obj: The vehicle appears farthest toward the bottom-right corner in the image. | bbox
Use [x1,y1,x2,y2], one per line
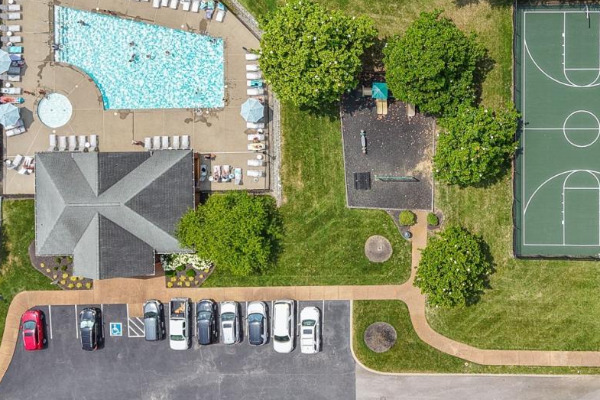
[300,305,322,355]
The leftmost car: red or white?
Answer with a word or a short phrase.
red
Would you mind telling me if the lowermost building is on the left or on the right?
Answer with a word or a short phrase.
left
